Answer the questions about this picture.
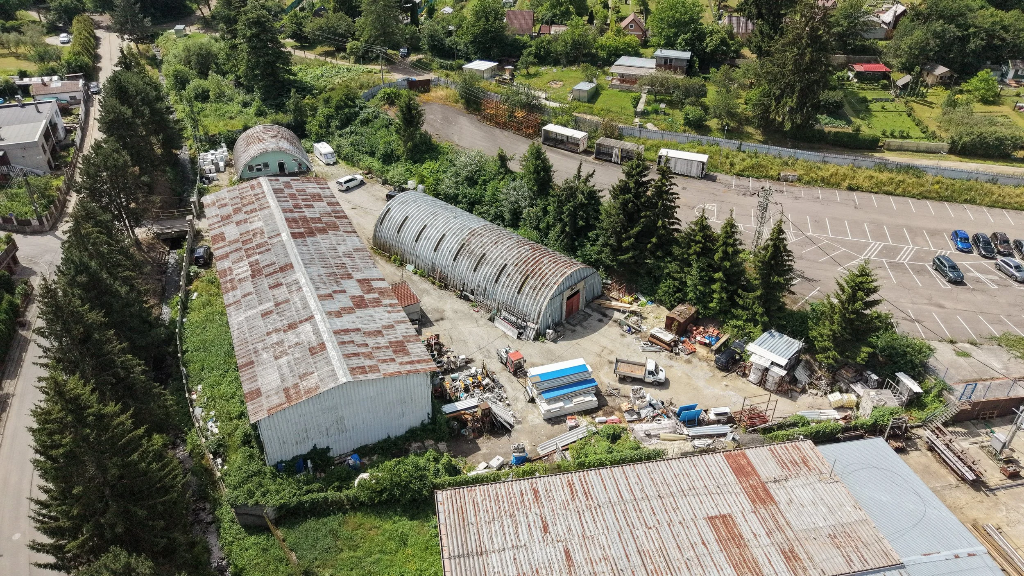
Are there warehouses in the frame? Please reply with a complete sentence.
Yes, looking at the shot, I can spot a warehouse.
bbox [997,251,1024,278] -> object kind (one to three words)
car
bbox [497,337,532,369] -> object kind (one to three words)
vehicle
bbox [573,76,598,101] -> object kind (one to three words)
shed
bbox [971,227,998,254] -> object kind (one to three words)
car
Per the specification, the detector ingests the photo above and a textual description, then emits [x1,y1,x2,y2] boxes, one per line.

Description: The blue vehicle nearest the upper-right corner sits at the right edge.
[949,226,974,248]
